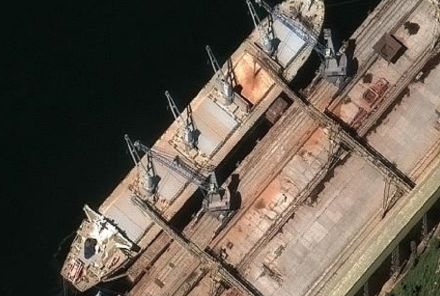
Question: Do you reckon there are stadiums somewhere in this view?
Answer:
No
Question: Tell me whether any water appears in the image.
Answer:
Yes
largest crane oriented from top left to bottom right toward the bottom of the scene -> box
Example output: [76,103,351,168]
[135,141,235,239]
